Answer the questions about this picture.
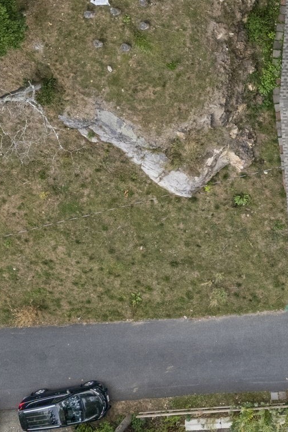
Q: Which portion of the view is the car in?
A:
bottom left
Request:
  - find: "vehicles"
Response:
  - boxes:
[16,380,111,432]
